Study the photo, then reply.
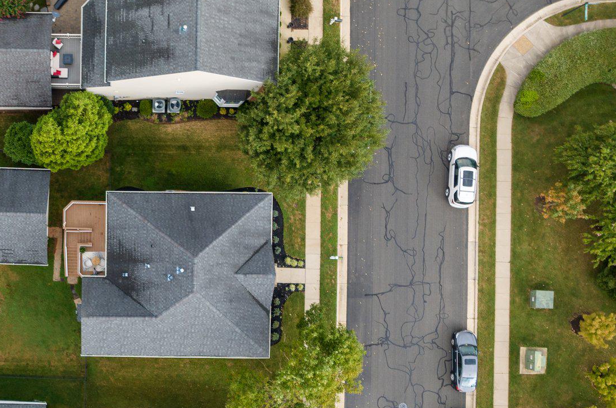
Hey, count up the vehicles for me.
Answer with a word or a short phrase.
2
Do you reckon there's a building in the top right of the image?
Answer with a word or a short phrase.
No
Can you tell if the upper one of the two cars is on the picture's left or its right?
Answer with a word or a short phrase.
right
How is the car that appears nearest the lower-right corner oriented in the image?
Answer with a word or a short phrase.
up and down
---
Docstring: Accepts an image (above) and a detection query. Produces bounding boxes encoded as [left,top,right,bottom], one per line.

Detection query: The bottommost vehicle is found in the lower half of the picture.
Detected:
[449,330,482,393]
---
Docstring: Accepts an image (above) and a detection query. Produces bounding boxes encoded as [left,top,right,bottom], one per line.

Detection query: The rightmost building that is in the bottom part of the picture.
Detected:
[74,190,277,359]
